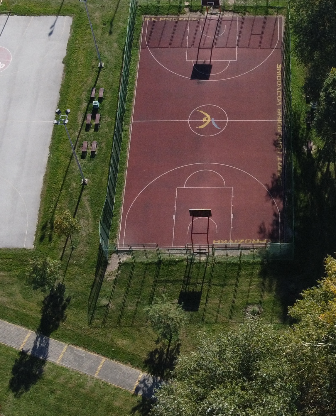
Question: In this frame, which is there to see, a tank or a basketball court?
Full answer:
There is a basketball court in the scene.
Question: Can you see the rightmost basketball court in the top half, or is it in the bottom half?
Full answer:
The rightmost basketball court is in the top half of the image.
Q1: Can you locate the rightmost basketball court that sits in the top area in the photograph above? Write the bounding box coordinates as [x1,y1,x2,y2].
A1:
[114,14,289,252]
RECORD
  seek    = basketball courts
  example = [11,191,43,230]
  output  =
[114,14,289,252]
[0,16,72,248]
